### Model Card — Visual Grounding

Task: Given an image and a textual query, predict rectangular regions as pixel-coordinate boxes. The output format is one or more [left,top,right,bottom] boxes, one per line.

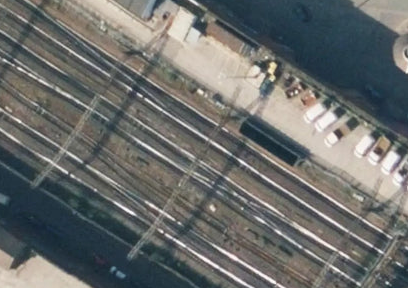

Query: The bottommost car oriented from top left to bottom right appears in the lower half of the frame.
[109,266,127,280]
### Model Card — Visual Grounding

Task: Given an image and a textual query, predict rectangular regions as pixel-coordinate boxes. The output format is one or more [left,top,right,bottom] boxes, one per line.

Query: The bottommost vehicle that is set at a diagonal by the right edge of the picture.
[390,165,408,183]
